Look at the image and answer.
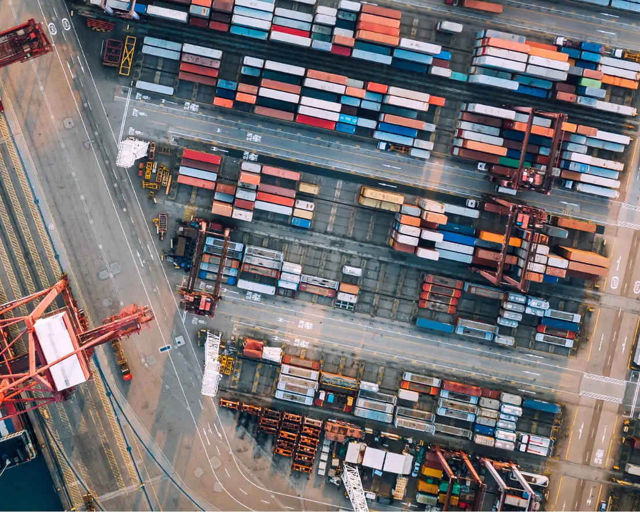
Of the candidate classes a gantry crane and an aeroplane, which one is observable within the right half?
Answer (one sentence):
Looking within the right half, you will find a gantry crane.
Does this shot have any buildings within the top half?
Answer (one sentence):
No, looking within the top half, there is no building.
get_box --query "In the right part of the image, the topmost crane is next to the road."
[487,108,567,203]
